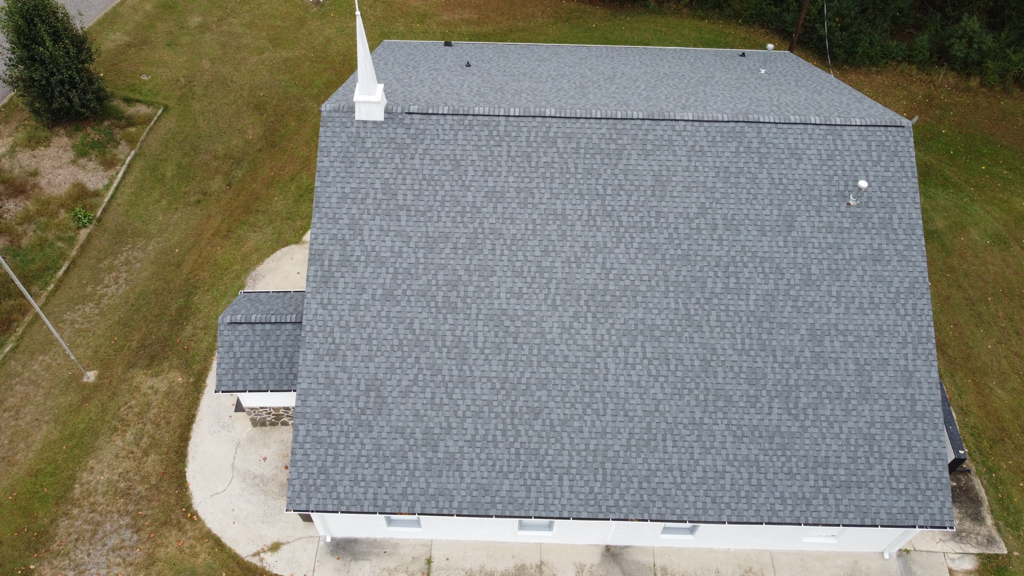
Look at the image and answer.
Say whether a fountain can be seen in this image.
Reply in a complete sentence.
No, I can see no fountain in this picture.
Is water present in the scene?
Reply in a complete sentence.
No, water can't be seen anywhere here.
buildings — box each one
[214,0,957,558]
